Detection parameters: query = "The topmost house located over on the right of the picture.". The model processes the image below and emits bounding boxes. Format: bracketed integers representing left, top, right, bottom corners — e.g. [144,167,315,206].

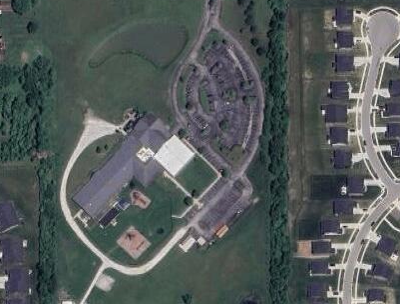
[336,5,354,27]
